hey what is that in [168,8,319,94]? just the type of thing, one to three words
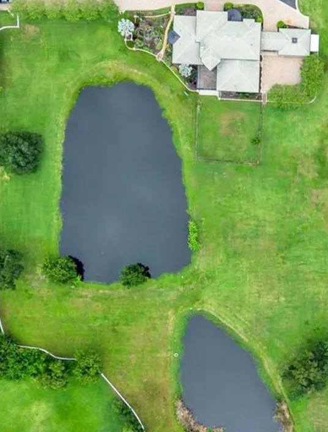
house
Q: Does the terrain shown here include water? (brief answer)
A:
Yes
